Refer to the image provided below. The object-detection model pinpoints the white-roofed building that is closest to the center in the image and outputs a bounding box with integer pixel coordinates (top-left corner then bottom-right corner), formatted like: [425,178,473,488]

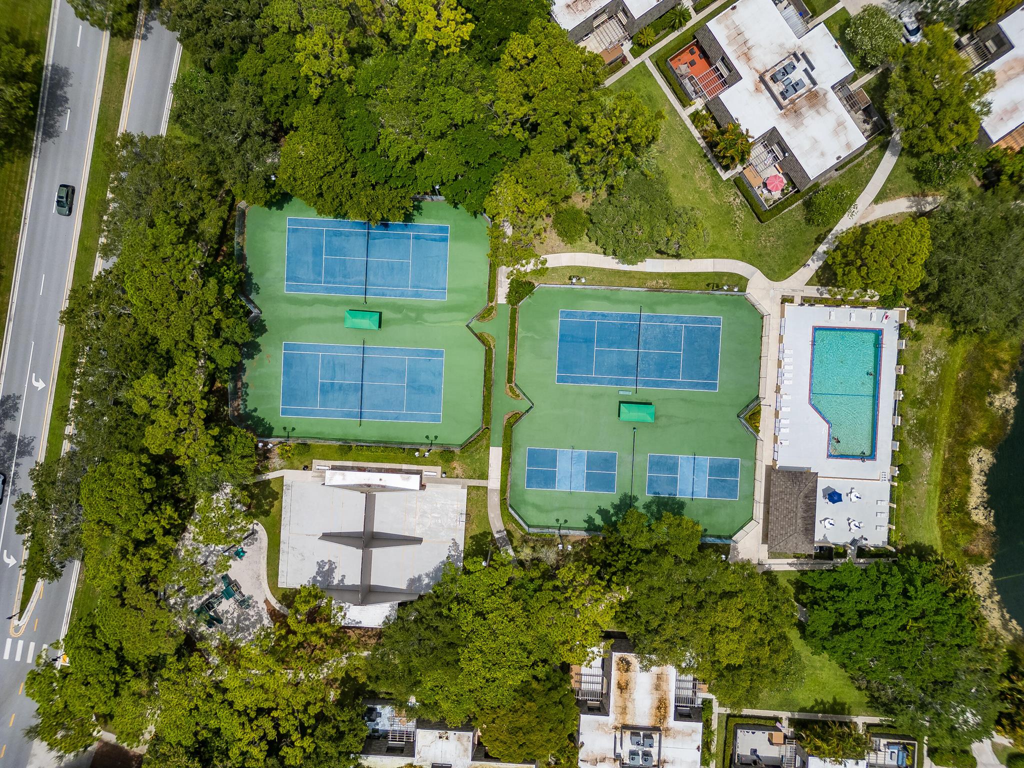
[326,469,422,488]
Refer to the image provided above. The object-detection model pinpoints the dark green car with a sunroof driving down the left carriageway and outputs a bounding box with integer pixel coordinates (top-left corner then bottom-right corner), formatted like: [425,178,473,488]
[55,183,75,217]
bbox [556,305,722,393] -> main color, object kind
blue tennis court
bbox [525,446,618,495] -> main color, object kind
blue sports court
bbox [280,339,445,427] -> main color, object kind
blue tennis court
